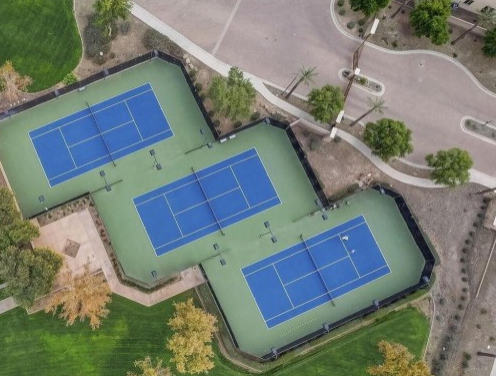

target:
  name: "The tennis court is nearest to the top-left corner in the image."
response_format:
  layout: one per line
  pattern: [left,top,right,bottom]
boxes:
[0,59,218,217]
